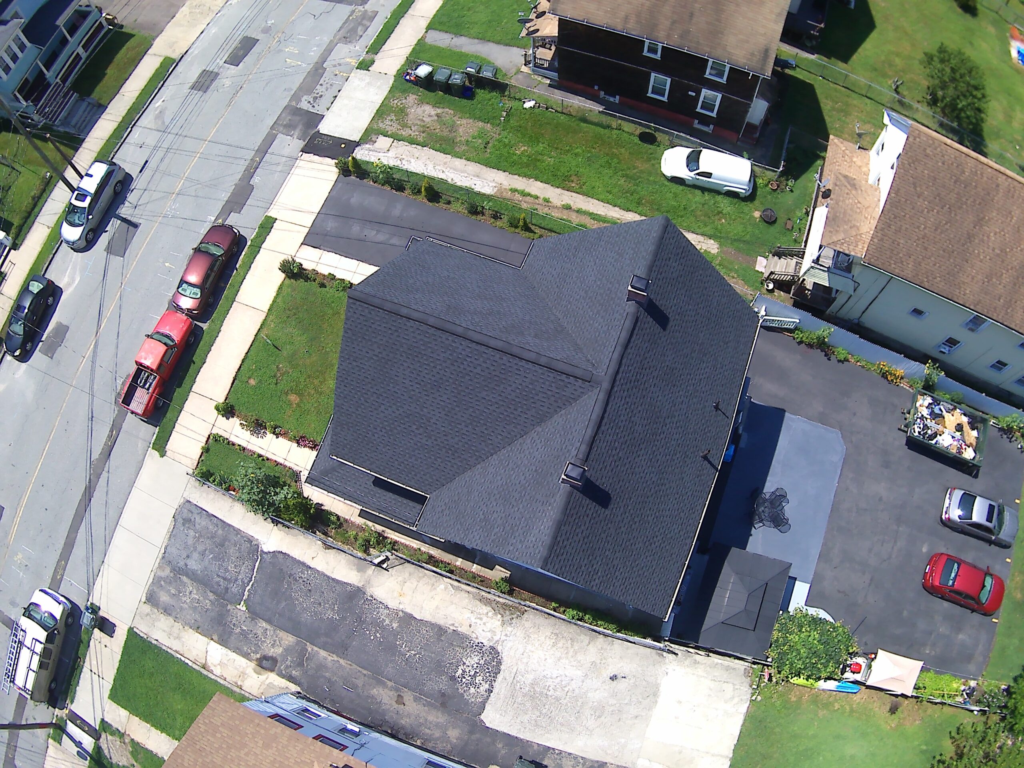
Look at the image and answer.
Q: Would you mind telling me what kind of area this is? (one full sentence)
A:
It's a residential area.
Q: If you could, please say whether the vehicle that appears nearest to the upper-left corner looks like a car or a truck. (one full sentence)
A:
Specifically, the vehicle that appears nearest to the upper-left corner is a car.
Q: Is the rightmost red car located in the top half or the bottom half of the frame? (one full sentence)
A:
The bottom half of the photo is where the rightmost red car is.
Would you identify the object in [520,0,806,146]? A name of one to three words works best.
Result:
house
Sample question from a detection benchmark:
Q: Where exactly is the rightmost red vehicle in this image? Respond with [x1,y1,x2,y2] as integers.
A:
[920,551,1006,614]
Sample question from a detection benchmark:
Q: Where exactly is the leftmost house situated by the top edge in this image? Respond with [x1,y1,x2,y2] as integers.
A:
[0,0,116,123]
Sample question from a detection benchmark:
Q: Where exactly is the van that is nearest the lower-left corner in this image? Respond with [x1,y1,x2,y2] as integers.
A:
[0,592,77,707]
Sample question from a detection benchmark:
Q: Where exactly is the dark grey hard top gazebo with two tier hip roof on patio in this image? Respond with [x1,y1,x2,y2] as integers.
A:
[690,547,793,661]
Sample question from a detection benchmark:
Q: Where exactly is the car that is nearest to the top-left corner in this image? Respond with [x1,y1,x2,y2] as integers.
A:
[56,156,128,250]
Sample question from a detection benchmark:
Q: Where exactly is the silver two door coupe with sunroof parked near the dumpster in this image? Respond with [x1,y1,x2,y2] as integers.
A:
[938,493,1019,546]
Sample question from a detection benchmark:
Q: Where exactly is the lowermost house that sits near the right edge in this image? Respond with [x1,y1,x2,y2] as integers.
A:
[768,120,1024,388]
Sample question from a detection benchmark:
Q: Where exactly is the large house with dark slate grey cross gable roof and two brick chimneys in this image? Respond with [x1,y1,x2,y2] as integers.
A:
[303,216,769,621]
